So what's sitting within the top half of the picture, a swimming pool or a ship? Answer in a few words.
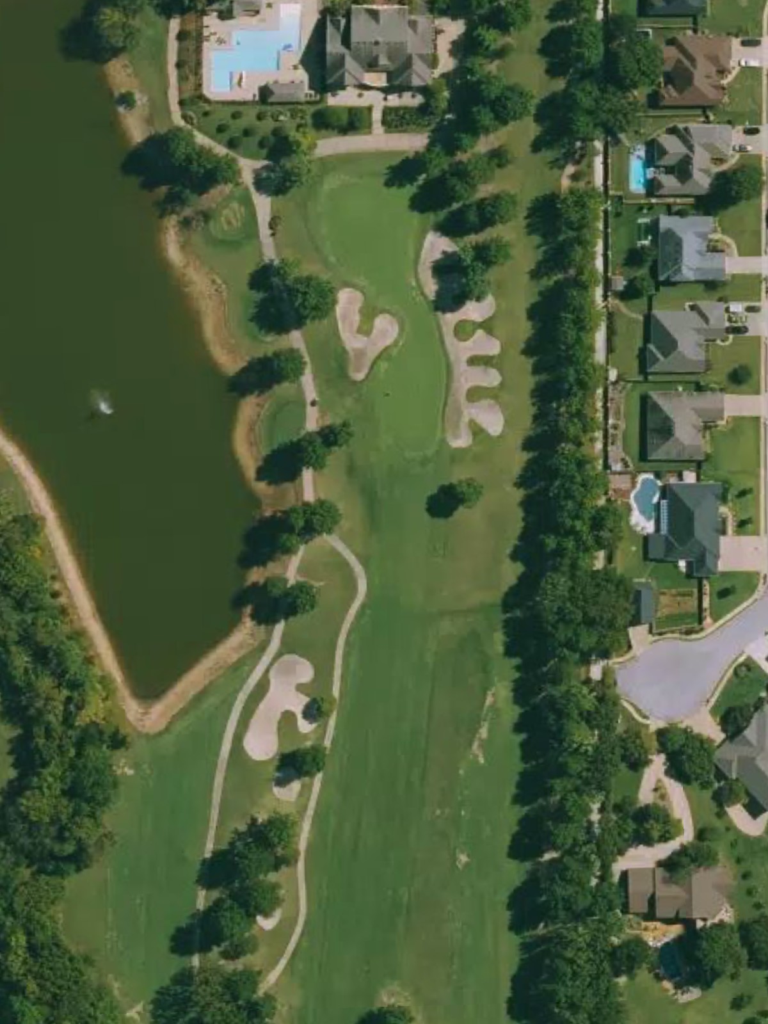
swimming pool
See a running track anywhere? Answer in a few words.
No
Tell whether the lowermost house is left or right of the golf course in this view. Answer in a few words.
right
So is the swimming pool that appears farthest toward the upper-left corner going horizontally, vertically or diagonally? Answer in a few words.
diagonally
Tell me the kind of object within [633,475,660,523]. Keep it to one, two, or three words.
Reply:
swimming pool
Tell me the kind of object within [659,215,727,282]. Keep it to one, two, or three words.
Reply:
house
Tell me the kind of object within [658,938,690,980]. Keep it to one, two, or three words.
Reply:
swimming pool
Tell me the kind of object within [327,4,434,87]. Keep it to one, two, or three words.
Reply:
building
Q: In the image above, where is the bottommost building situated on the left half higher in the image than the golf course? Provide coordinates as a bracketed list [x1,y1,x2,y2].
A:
[259,83,305,101]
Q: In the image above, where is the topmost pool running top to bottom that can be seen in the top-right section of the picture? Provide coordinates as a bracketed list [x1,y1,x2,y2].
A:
[628,143,646,195]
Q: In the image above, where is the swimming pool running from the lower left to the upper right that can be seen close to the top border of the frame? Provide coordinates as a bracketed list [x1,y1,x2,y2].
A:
[210,2,303,93]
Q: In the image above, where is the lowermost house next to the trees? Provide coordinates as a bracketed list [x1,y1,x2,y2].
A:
[628,866,733,920]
